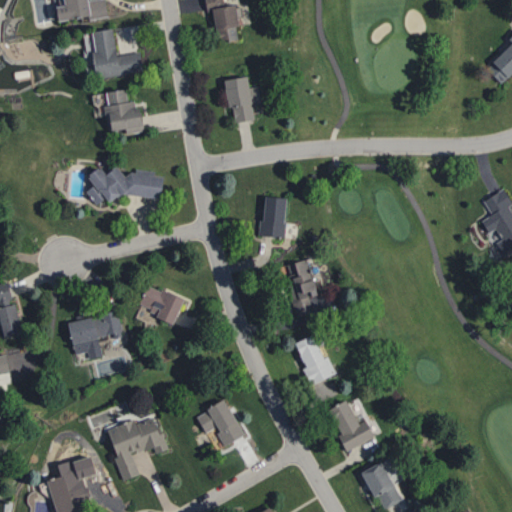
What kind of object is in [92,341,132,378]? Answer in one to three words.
swimming pool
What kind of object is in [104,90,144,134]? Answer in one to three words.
house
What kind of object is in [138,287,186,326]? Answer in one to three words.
house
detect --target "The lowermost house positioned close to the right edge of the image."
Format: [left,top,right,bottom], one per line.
[482,188,512,233]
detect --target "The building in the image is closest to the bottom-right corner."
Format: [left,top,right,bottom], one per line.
[363,460,400,510]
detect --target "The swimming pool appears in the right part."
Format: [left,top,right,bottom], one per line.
[308,262,324,286]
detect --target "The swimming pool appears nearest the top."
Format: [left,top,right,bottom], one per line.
[32,0,54,29]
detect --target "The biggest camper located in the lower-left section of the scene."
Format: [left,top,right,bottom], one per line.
[106,479,118,498]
